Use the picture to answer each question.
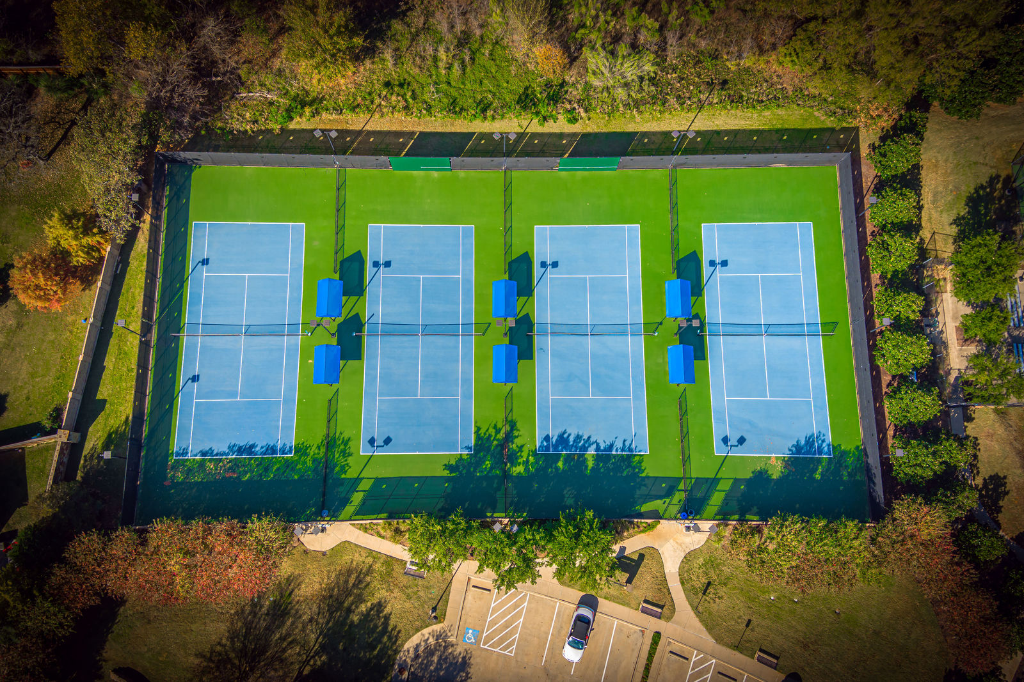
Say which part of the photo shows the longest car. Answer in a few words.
bottom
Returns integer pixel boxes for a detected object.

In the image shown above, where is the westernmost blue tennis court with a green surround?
[134,165,339,525]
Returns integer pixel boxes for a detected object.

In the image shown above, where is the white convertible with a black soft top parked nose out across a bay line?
[566,604,596,662]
